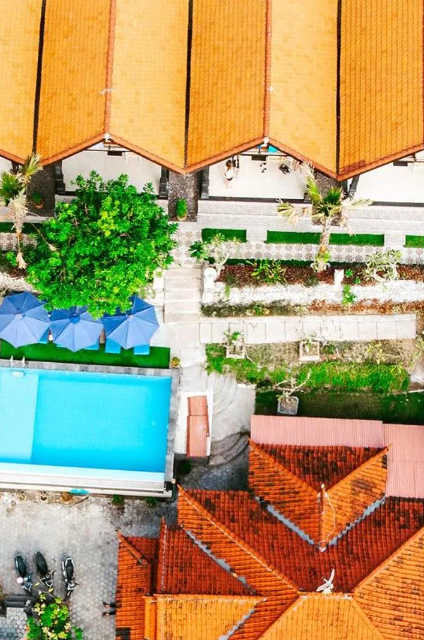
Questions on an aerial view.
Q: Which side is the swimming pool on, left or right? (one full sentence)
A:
You can find the swimming pool on the left side of the picture.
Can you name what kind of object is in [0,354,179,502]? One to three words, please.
swimming pool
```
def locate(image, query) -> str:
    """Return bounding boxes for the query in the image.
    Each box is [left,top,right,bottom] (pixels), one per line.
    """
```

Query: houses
[34,0,191,204]
[115,440,424,640]
[338,0,424,212]
[186,0,340,207]
[0,0,45,198]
